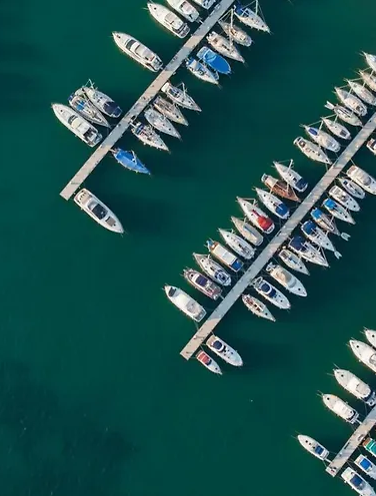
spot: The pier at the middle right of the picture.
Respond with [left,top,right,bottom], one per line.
[180,111,376,361]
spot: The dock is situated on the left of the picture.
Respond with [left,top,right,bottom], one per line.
[60,0,235,201]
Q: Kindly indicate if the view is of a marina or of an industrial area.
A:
marina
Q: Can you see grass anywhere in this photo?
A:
No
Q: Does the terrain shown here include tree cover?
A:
No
